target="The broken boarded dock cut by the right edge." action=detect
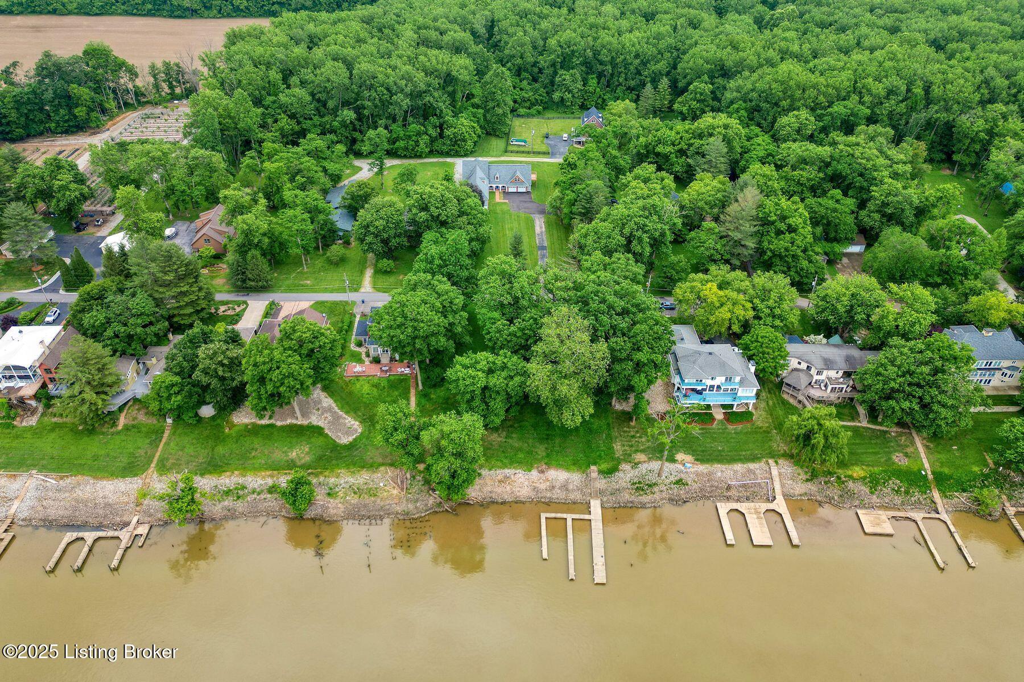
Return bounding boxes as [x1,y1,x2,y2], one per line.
[999,495,1024,544]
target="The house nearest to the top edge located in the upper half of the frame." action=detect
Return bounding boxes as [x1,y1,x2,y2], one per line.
[580,109,605,142]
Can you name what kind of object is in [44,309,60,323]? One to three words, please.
car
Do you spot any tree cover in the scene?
Yes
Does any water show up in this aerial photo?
Yes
